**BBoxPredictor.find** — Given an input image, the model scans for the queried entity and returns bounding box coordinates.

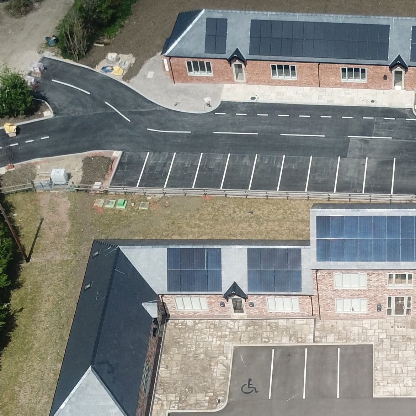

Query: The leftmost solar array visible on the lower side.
[166,248,222,292]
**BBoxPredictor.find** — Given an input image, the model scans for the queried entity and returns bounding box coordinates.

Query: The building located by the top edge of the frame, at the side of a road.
[163,10,416,89]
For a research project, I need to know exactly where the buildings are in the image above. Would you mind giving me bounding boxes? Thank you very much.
[49,202,416,416]
[163,10,416,89]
